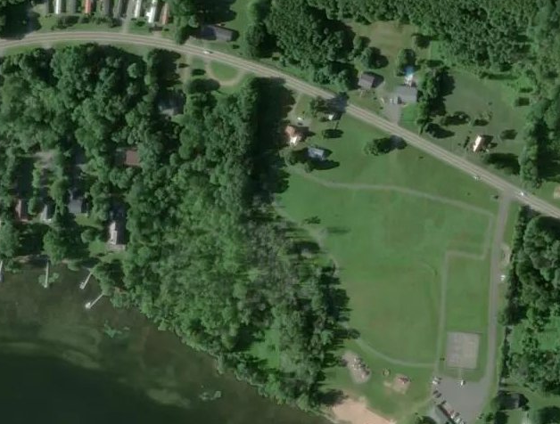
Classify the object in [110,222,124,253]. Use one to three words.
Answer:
house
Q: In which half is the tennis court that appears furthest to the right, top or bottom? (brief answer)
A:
bottom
